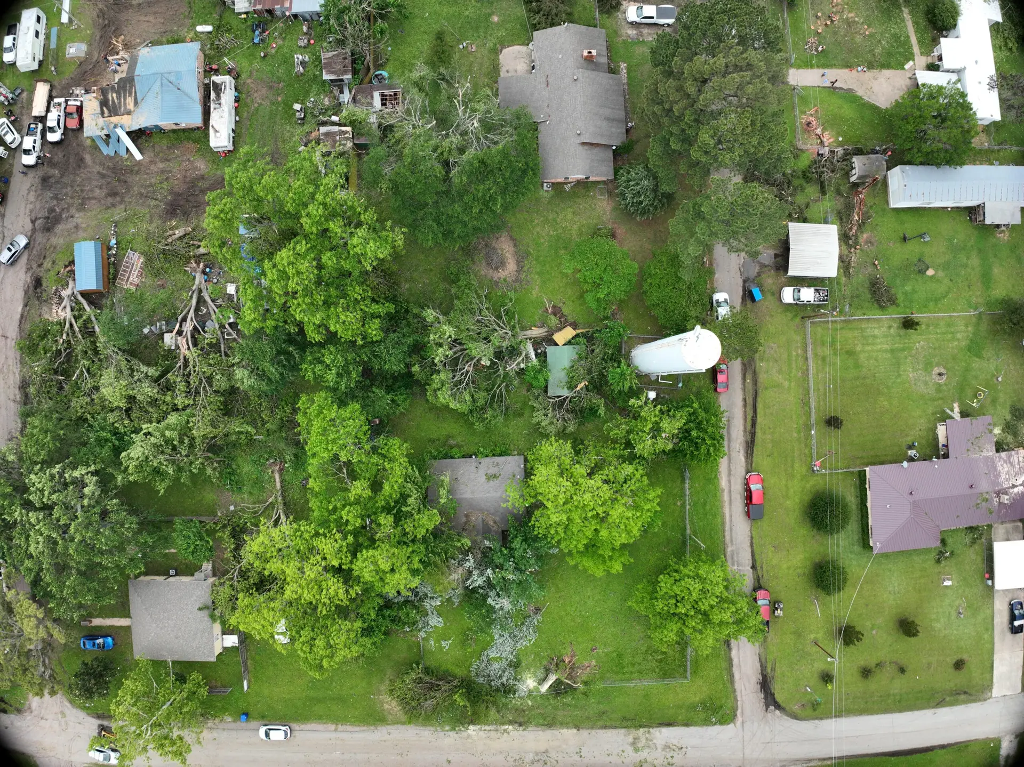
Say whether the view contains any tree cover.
Yes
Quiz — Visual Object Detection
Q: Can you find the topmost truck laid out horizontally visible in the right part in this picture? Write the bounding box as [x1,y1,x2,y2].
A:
[626,4,677,27]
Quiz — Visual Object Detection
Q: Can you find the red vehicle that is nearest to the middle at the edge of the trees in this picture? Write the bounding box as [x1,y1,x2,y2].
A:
[712,359,730,394]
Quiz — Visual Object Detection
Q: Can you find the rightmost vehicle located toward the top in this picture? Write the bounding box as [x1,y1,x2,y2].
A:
[781,286,830,304]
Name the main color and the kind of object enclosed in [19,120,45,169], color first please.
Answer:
white truck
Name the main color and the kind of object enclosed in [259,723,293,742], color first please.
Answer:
white car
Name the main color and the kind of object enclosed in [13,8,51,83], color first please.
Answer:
white trailer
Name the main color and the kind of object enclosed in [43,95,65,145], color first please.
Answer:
white truck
